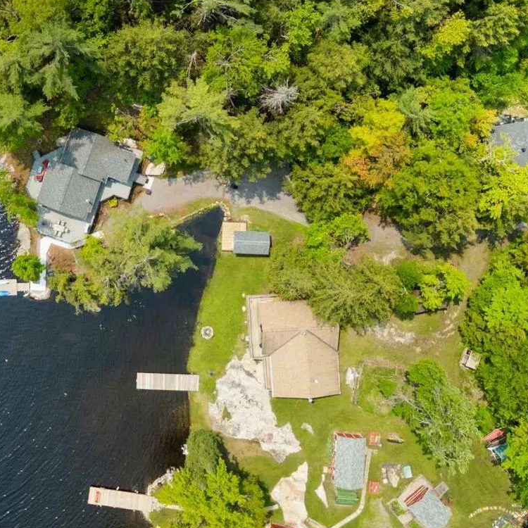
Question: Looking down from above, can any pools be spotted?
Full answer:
No, I find no pool anywhere in the image.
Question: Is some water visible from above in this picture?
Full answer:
Yes, water can be seen from above here.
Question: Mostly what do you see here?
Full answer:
The largest share of the image is taken up by trees.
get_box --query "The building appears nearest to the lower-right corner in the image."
[397,475,452,528]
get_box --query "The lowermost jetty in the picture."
[87,484,156,515]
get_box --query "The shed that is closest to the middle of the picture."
[221,222,271,255]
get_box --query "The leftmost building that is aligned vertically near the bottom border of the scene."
[330,431,366,507]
